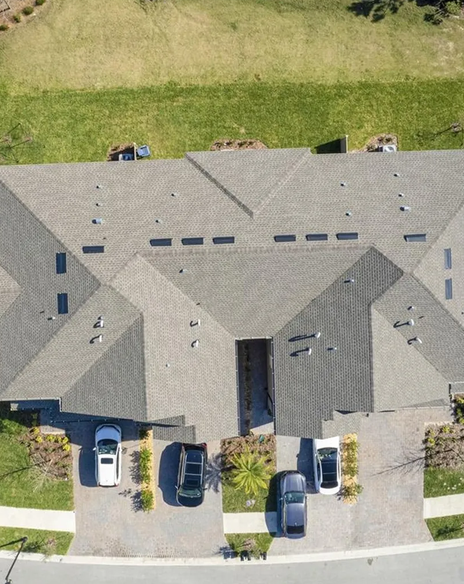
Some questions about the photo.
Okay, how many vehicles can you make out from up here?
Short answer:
4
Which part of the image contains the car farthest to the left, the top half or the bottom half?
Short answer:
bottom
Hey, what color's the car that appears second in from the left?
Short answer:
black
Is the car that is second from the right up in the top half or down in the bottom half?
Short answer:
bottom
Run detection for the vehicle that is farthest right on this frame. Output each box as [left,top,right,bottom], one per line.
[310,437,342,495]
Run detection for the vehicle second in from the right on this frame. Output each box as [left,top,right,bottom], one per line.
[277,468,309,539]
